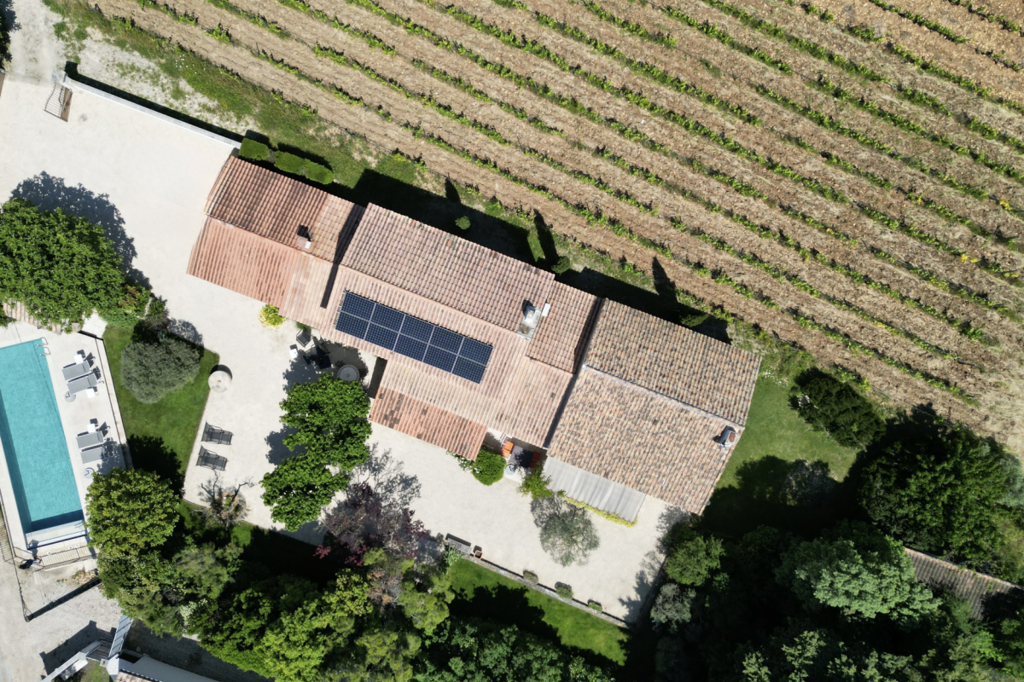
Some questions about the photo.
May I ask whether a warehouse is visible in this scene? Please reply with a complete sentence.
No, no warehouse is visible in the scene.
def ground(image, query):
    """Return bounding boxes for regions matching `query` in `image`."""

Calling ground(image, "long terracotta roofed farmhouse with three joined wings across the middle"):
[185,153,762,515]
